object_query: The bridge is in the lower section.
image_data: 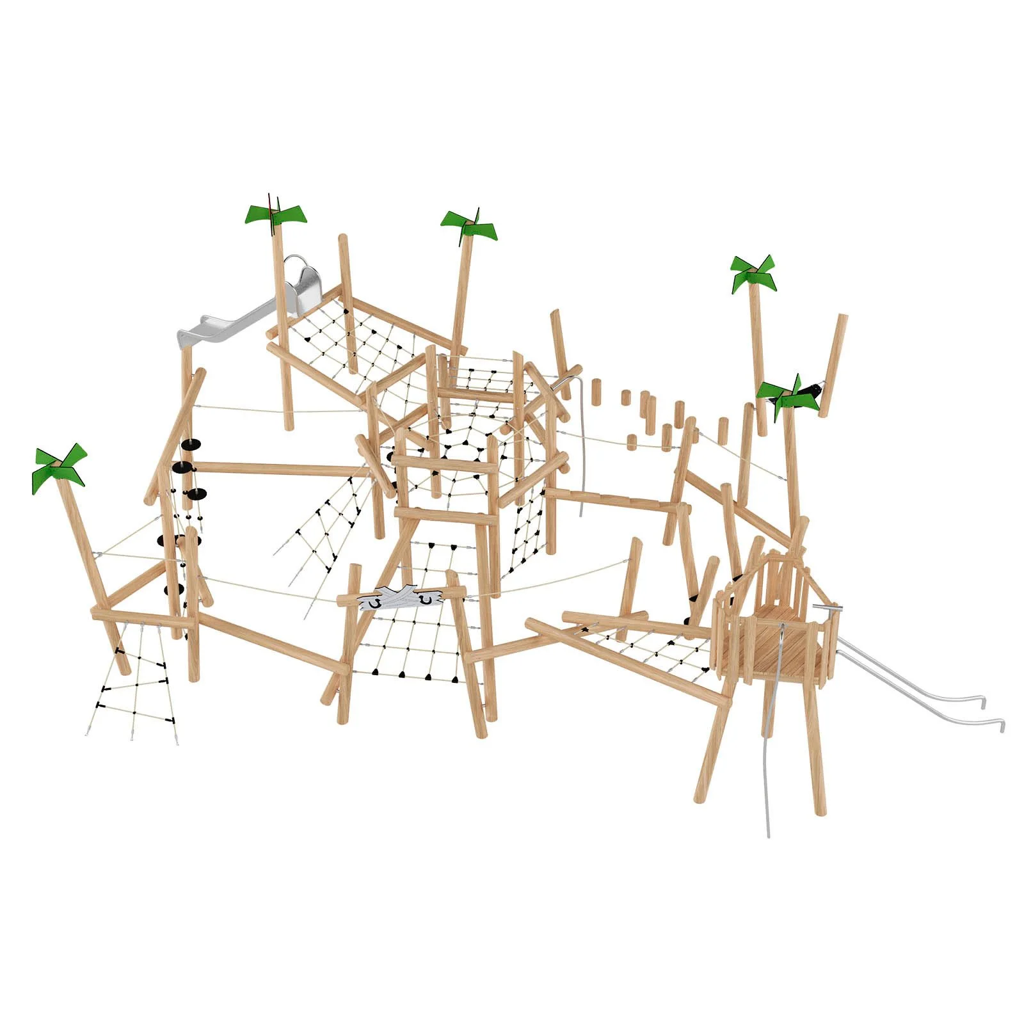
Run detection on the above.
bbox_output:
[527,611,732,707]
